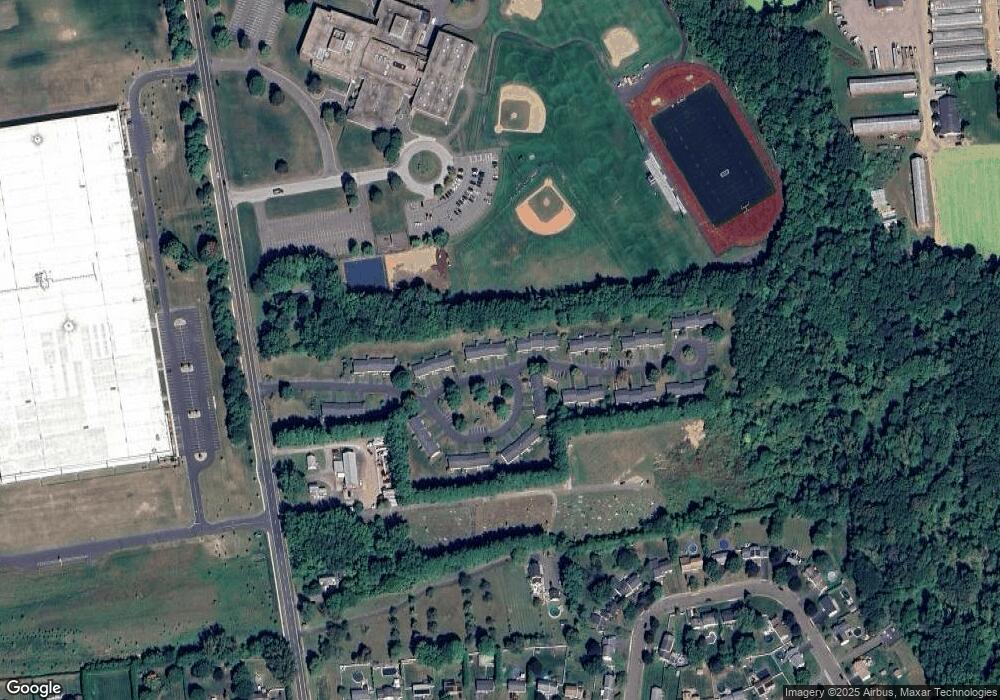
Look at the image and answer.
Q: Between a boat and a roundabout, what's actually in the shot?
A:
roundabout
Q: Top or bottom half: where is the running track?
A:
top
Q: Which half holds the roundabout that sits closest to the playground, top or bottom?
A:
top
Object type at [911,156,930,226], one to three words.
greenhouse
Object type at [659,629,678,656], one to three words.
house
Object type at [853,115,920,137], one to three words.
shed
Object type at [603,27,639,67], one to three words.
baseball field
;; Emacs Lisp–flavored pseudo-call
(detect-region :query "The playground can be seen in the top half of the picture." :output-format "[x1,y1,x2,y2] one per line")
[386,247,449,296]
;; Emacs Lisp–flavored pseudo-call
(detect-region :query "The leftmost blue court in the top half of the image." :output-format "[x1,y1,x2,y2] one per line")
[344,257,388,293]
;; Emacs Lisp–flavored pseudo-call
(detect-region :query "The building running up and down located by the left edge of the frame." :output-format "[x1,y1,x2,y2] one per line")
[0,110,175,482]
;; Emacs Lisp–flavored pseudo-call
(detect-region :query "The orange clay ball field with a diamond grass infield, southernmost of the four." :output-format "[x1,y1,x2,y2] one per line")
[516,178,575,235]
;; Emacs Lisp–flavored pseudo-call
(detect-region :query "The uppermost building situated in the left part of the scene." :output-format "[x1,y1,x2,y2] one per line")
[300,0,477,132]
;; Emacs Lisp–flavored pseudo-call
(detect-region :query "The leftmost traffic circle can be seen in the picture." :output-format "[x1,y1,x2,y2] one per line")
[399,140,453,193]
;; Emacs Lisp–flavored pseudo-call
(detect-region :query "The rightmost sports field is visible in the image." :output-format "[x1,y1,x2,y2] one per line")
[650,83,778,226]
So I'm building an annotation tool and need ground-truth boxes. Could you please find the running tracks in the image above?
[626,62,783,256]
